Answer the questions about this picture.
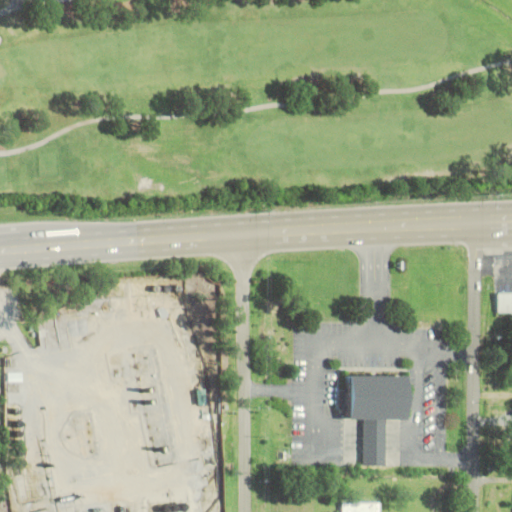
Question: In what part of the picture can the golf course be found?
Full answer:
The golf course is in the top part of the image.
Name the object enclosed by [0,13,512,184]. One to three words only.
golf course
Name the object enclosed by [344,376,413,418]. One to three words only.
building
